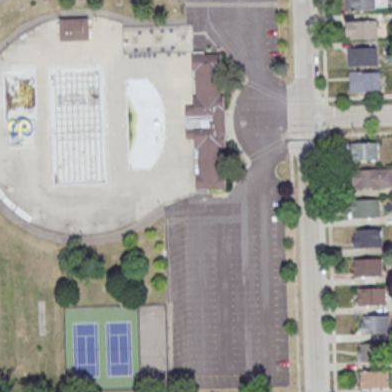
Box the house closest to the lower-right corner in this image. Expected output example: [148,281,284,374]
[358,372,390,392]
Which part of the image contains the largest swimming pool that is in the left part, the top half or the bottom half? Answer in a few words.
top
